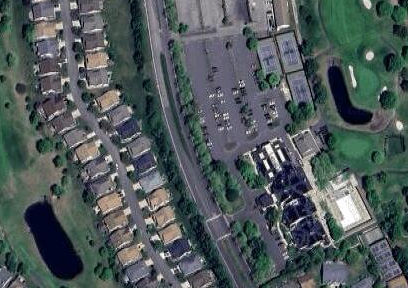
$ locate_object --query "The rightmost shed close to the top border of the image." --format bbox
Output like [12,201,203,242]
[274,0,288,28]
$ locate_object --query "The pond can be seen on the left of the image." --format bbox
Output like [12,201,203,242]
[25,200,83,279]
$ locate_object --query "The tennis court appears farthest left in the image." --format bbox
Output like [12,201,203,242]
[257,35,283,73]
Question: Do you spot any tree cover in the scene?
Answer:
Yes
